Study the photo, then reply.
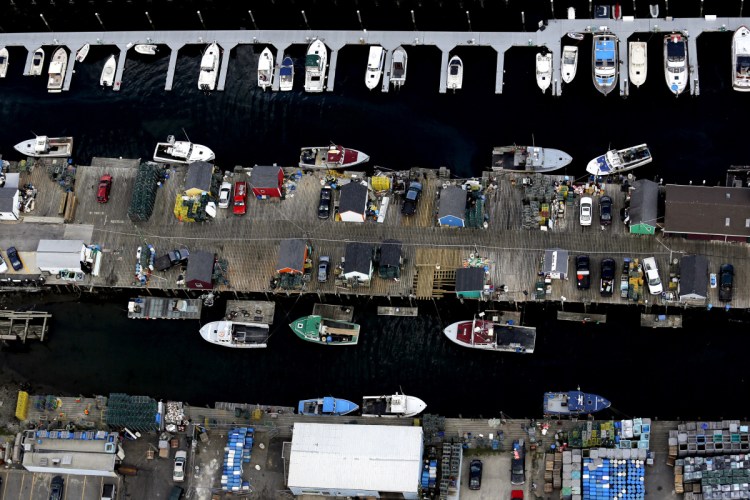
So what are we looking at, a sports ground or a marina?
marina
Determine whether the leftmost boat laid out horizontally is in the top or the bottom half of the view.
top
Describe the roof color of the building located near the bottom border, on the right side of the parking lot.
white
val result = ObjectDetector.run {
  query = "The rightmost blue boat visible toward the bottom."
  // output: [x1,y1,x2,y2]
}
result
[543,392,611,417]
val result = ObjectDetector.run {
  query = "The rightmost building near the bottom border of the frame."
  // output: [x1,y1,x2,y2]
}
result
[287,422,426,498]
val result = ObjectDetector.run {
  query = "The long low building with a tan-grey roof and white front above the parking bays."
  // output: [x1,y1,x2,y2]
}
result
[23,438,125,474]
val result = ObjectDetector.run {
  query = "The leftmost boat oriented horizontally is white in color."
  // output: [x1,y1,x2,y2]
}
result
[14,133,75,158]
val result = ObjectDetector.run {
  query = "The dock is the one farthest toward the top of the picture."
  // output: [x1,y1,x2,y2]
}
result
[0,18,750,97]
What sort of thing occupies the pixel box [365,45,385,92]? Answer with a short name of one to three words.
boat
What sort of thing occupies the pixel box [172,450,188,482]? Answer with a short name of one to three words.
car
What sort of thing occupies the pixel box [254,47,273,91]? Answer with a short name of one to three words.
boat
